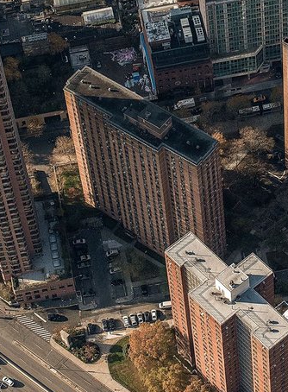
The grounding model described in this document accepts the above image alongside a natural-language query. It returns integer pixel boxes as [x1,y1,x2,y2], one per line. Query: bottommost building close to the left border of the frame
[6,198,77,288]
